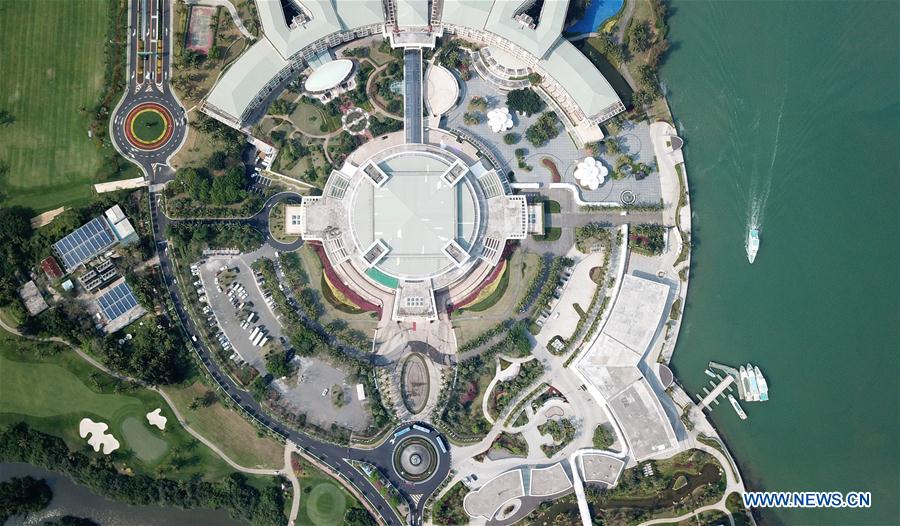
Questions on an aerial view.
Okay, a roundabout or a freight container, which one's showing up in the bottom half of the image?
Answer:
roundabout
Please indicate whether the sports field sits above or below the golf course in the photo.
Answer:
above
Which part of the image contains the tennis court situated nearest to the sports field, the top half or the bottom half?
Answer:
top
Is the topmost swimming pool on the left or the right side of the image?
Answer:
right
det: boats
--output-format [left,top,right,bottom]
[747,230,759,264]
[729,394,747,421]
[747,362,758,401]
[754,365,768,401]
[740,365,751,401]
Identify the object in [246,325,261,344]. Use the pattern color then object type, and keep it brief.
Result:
white vehicle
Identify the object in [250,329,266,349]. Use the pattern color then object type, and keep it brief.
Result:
white vehicle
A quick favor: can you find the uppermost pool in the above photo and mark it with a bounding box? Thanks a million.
[564,0,628,33]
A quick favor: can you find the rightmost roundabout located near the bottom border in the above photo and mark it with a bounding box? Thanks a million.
[343,421,452,526]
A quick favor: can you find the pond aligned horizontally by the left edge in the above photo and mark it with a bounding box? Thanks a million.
[0,462,256,526]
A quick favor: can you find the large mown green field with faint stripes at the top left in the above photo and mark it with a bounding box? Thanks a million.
[0,0,107,210]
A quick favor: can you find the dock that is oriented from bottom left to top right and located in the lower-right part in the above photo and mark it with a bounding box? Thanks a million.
[695,372,735,412]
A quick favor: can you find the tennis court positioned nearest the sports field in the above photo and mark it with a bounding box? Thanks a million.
[183,4,216,54]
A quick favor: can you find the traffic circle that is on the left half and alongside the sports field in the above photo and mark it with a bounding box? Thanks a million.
[110,83,190,213]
